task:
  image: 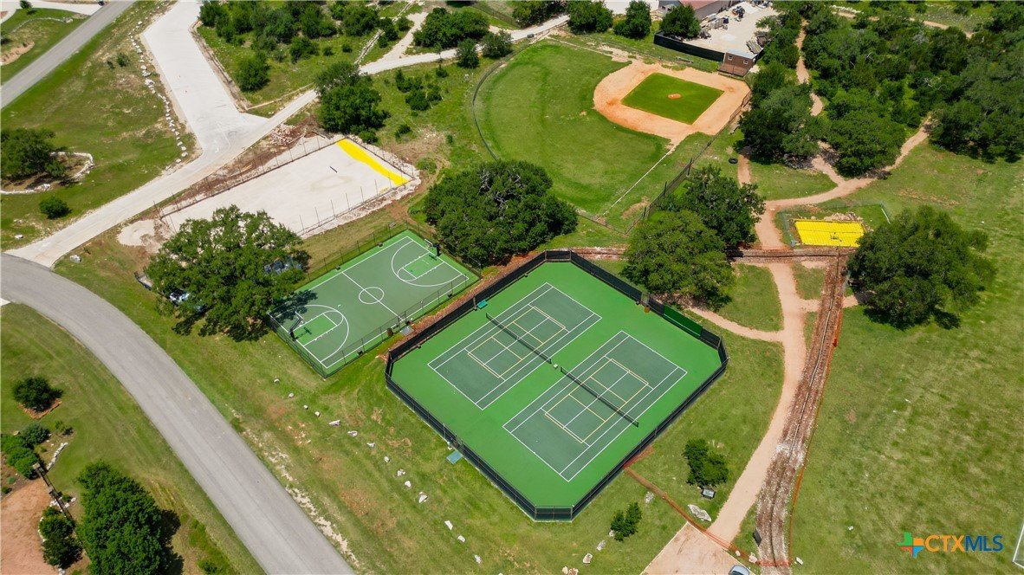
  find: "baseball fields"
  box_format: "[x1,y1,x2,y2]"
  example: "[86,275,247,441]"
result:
[478,38,749,215]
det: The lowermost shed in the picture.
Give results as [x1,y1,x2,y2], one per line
[725,43,759,70]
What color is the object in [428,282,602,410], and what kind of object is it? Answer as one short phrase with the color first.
green tennis court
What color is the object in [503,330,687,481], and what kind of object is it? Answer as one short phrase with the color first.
green tennis court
